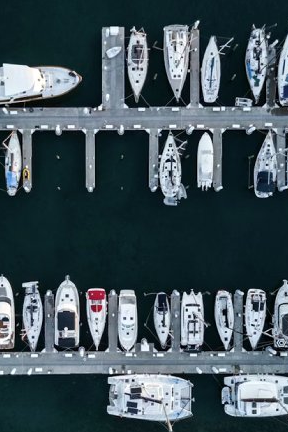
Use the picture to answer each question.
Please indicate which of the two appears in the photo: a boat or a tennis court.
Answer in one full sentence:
This aerial view contains a boat.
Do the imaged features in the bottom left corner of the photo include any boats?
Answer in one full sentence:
Yes, I can see a boat in the bottom left corner of the photo.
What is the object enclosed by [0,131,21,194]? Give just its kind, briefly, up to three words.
boat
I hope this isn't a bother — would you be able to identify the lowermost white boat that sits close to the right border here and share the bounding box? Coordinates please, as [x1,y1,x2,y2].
[214,373,288,418]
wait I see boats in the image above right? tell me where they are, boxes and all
[0,131,21,194]
[120,27,154,107]
[246,22,288,105]
[214,373,288,418]
[155,25,194,106]
[197,130,213,189]
[107,370,199,432]
[179,185,188,200]
[254,129,288,197]
[158,130,187,198]
[86,288,107,351]
[262,278,288,350]
[243,288,282,351]
[198,33,233,107]
[0,274,16,351]
[118,289,138,351]
[148,291,176,349]
[19,280,42,351]
[162,197,179,206]
[54,275,79,353]
[221,387,230,405]
[278,31,288,107]
[180,290,211,351]
[0,63,84,108]
[215,290,255,351]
